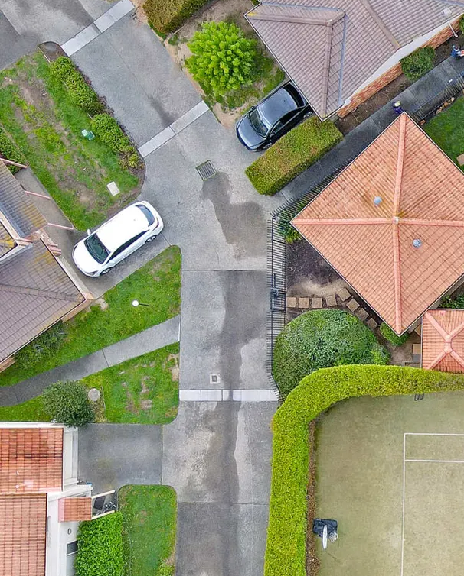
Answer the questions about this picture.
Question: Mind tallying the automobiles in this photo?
2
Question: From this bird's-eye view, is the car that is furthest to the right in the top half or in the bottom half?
top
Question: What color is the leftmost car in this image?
white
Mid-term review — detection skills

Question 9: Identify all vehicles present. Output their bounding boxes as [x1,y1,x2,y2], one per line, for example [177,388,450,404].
[231,80,316,151]
[72,201,165,272]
